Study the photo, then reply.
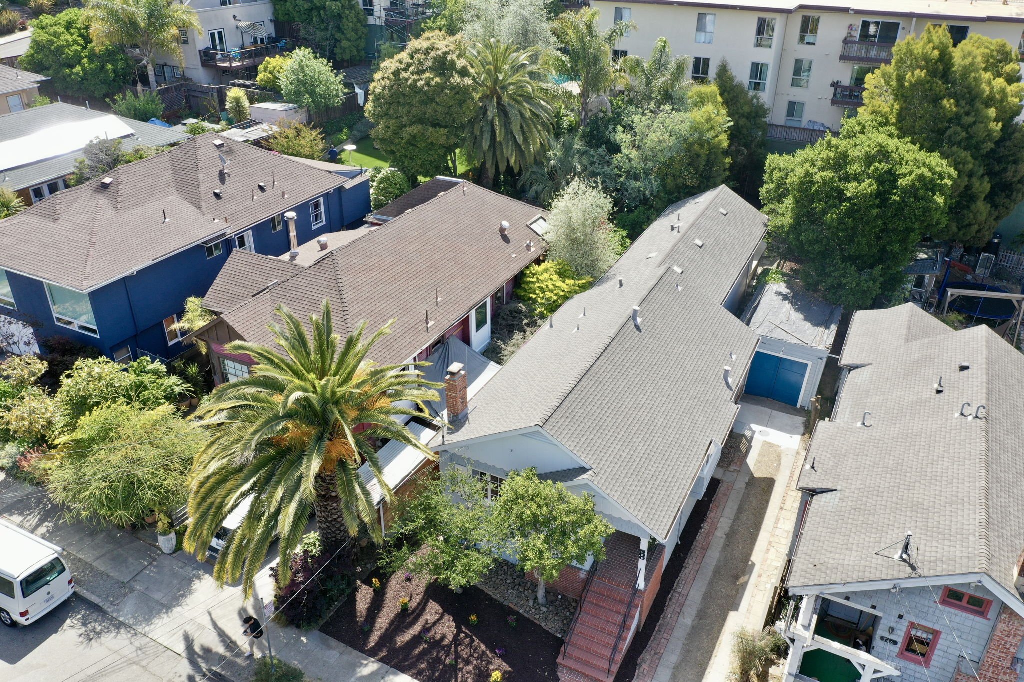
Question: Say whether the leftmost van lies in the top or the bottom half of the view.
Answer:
bottom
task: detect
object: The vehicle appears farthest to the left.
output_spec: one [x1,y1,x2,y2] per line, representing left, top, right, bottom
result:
[0,531,72,637]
